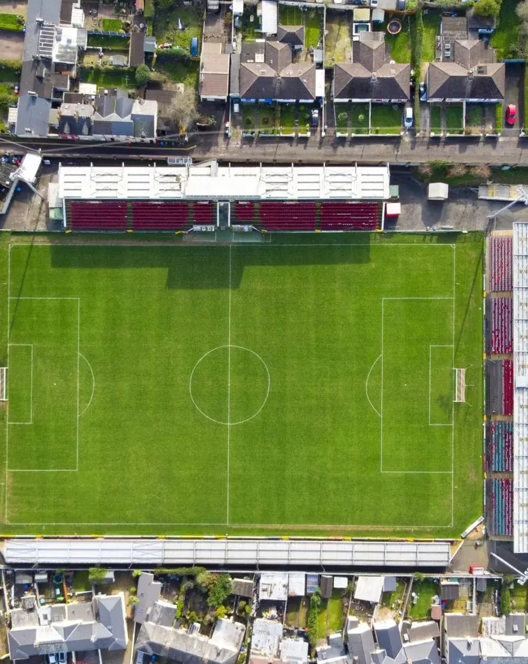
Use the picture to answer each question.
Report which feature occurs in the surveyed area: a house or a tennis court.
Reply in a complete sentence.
The image shows a house.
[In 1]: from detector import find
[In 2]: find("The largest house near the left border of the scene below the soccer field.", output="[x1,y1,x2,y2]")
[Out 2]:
[8,591,129,661]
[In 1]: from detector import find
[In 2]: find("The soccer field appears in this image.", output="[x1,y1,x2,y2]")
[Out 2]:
[0,231,485,538]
